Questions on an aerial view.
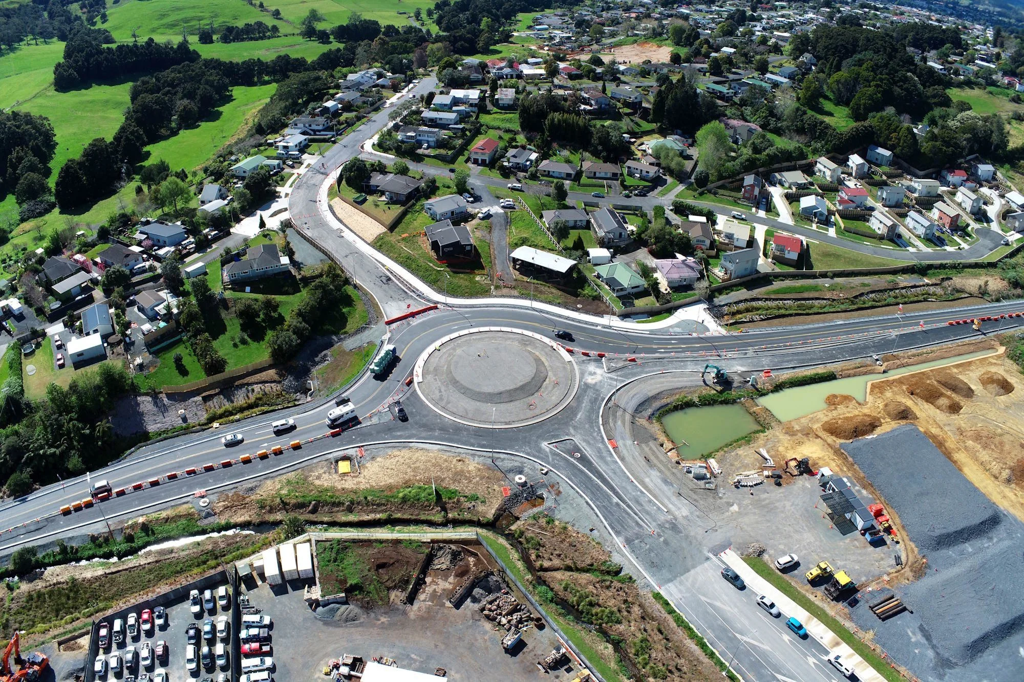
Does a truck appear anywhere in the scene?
Yes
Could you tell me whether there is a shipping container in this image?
Yes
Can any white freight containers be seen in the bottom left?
Yes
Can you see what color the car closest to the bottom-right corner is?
white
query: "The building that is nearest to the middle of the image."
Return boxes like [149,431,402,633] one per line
[512,247,577,286]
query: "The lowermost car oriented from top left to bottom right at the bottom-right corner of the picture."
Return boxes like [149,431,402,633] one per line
[824,650,858,680]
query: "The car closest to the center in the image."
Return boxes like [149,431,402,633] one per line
[554,328,573,340]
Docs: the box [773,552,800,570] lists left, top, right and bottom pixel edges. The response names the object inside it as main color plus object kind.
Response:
white car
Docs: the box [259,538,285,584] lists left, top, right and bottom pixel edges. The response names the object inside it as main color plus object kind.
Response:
white shipping container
